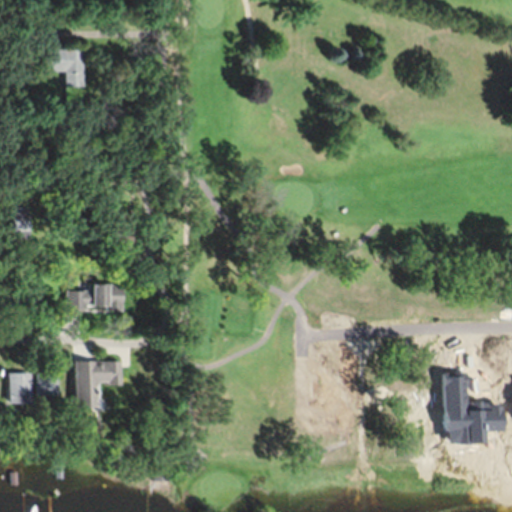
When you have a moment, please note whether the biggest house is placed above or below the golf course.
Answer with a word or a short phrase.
below it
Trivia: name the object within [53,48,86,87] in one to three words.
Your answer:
house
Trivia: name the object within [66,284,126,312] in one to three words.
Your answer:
house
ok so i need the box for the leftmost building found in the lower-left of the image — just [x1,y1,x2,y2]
[8,374,33,405]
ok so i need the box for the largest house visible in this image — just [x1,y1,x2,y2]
[445,374,505,444]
